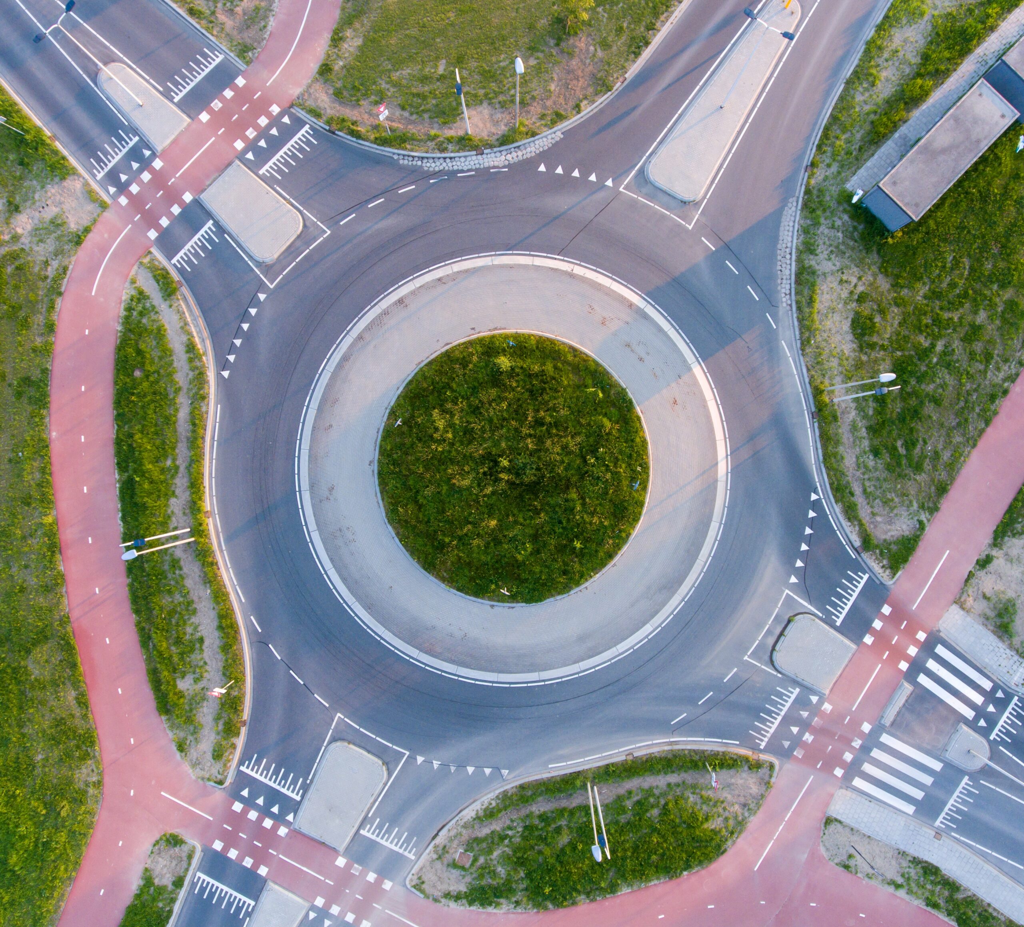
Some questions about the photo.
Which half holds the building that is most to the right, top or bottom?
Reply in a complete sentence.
It is in the top half that the building that is most to the right appears.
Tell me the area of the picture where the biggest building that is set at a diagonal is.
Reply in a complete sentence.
The biggest building that is set at a diagonal is located in the top right region of the scene.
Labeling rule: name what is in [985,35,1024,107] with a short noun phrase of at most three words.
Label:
building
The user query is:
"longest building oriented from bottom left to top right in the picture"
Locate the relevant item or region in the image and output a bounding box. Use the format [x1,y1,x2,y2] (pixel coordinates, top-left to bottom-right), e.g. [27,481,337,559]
[863,78,1020,232]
